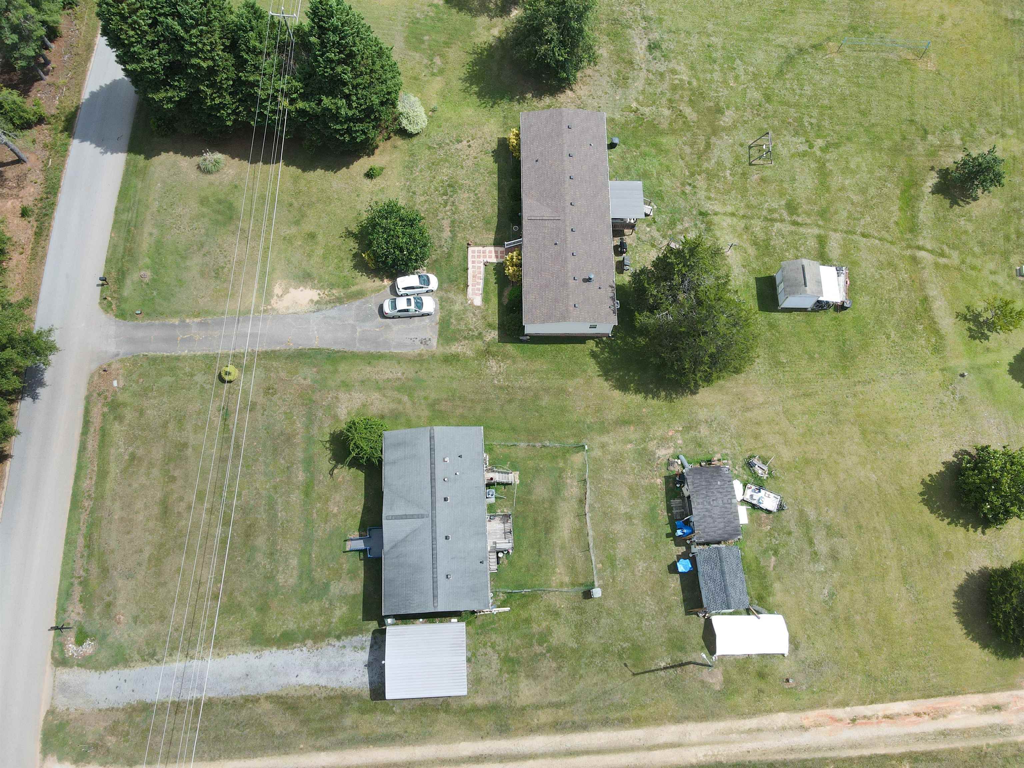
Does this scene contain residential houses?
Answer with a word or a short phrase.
Yes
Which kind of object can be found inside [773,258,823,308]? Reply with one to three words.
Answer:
shed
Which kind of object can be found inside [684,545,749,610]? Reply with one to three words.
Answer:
shed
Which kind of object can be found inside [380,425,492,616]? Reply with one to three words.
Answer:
house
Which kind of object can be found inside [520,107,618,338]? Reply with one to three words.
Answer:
house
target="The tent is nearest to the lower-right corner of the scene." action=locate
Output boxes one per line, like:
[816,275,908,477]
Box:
[707,614,787,656]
